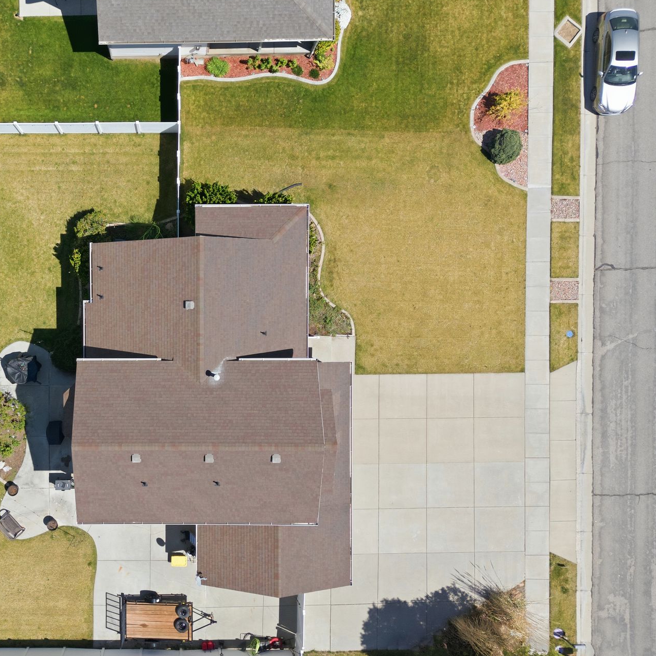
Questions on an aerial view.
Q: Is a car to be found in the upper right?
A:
Yes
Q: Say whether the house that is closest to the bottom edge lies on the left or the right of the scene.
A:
left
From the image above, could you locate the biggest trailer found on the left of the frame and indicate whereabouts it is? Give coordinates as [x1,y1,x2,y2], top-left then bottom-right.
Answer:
[122,592,219,648]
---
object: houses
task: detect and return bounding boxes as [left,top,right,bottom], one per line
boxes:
[65,202,355,598]
[96,0,338,61]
